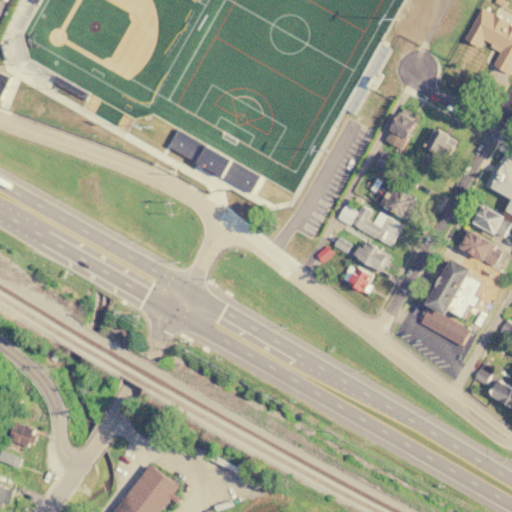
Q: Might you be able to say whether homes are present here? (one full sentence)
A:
Yes, this view includes a home.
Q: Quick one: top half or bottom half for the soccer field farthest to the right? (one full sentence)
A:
Seen from above, the soccer field farthest to the right lies in the top half of the view.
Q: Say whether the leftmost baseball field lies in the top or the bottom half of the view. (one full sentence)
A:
The leftmost baseball field is in the top half of the image.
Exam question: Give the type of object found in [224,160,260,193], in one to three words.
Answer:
building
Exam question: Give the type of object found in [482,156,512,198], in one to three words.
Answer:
house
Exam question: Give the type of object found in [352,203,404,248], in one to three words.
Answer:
building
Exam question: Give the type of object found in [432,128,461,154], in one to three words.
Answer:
house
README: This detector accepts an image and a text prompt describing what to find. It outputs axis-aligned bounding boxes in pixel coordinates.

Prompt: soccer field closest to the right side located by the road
[132,0,404,194]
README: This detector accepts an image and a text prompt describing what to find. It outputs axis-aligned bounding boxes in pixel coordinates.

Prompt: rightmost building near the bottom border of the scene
[112,462,180,512]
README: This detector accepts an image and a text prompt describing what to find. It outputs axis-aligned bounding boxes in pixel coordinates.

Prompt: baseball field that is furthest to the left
[26,0,208,118]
